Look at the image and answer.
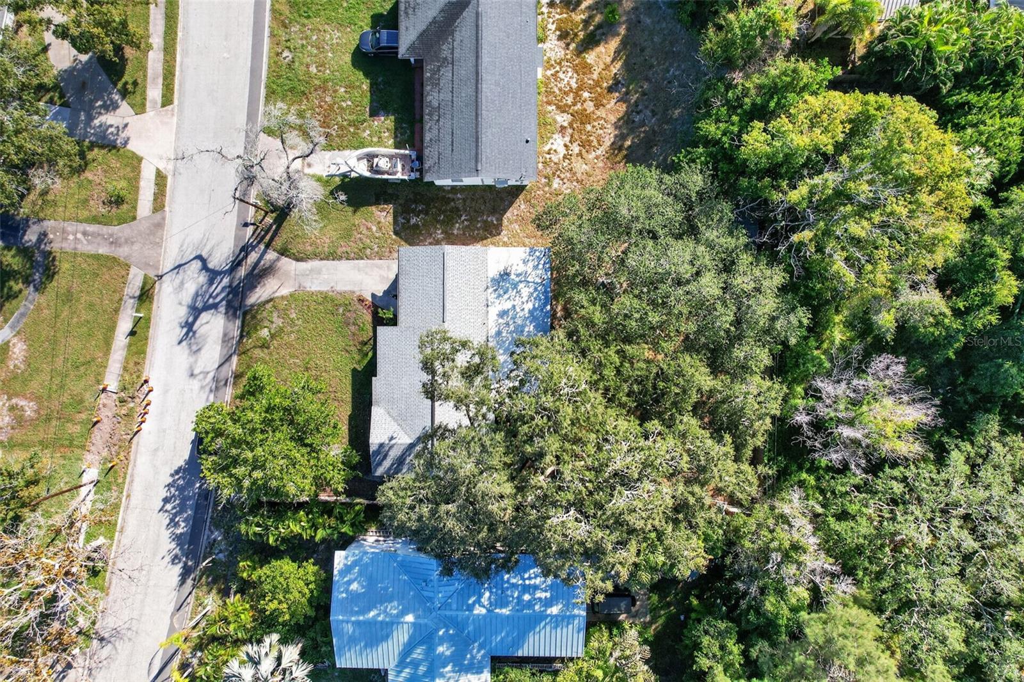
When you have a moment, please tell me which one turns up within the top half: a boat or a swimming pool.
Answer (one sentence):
It is a boat that can be seen within the top half.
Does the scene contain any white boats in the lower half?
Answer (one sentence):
No, no white boat can be made out in the lower half.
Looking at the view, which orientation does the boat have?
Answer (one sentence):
What the image shows is the boat lying horizontally.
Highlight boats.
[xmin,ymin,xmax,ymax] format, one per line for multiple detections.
[341,148,419,179]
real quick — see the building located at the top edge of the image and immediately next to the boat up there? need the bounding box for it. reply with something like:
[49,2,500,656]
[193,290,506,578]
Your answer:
[398,0,537,185]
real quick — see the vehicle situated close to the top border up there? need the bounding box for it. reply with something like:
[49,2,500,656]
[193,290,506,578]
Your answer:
[361,29,398,62]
